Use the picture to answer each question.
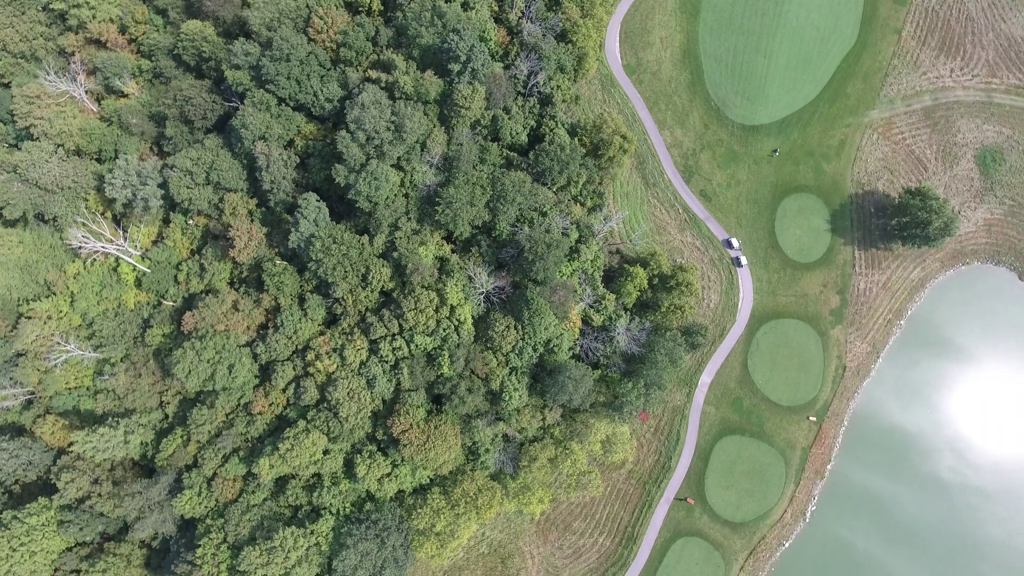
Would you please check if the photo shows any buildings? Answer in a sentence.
No, the frame has no building in it.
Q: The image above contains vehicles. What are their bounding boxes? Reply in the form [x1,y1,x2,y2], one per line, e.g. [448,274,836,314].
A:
[736,255,748,268]
[728,238,741,251]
